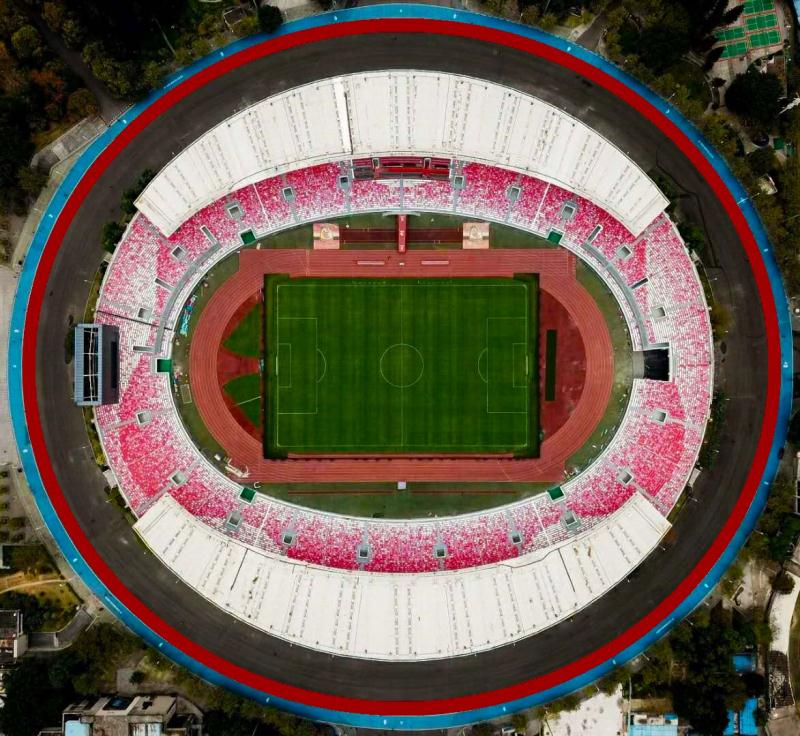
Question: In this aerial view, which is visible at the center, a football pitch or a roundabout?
football pitch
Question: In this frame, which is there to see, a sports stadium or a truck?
sports stadium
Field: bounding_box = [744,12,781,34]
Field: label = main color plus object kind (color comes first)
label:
green sports court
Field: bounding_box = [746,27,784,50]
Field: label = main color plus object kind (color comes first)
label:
green sports court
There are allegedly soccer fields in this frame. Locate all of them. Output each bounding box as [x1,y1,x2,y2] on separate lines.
[263,273,540,458]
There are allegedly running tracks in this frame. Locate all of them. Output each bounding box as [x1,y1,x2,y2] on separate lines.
[191,248,614,482]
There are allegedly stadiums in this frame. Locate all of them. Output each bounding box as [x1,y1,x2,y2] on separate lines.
[95,70,715,661]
